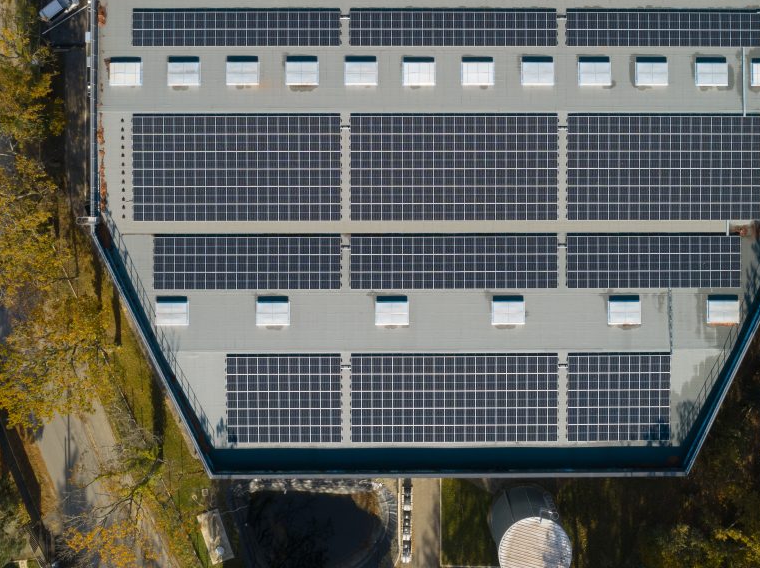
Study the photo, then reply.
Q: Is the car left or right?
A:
left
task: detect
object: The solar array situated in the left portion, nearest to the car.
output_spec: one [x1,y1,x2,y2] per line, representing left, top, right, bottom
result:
[132,12,342,46]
